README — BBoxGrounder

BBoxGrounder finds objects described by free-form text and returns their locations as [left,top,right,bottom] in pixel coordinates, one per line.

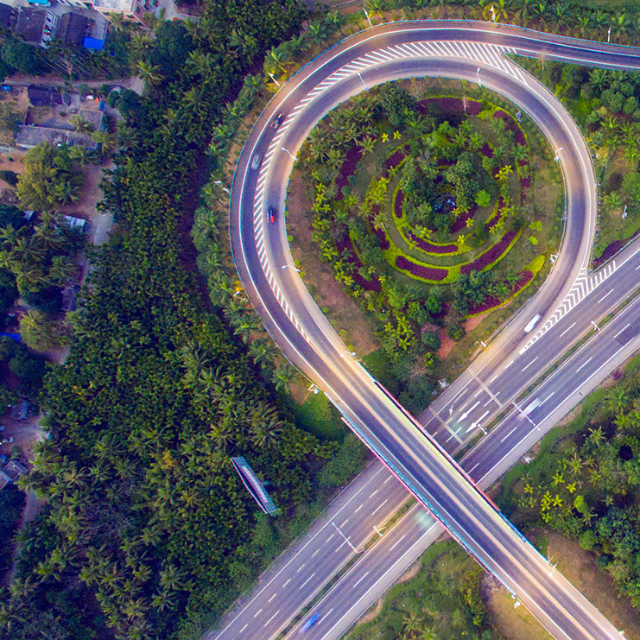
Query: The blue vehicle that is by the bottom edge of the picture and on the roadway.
[302,614,318,631]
